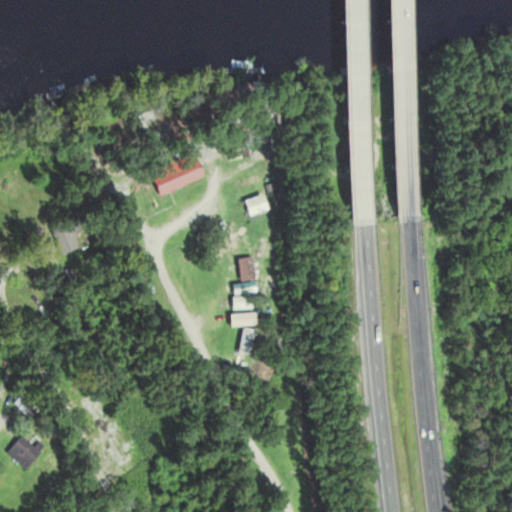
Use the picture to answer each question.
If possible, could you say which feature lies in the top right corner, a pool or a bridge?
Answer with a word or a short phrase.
bridge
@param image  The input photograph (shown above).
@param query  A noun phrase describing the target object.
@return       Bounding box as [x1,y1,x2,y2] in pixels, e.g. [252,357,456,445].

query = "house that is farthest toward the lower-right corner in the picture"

[250,360,276,382]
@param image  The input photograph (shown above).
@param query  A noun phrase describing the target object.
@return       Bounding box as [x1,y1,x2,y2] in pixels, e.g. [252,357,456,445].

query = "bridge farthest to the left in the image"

[344,0,377,226]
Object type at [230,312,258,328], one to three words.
house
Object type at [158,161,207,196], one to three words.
barn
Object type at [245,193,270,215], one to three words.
building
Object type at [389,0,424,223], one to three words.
bridge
